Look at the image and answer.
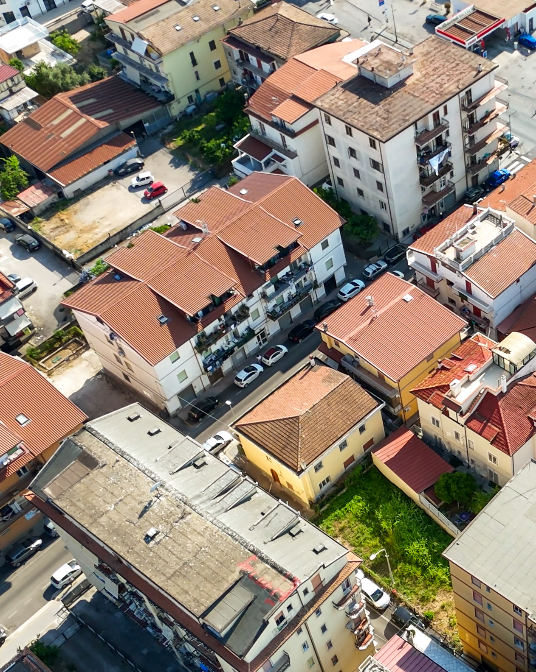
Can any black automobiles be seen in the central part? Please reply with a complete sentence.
Yes, a black automobile appears in the central part.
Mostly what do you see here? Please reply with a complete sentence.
The bulk of the photo consists of buildings.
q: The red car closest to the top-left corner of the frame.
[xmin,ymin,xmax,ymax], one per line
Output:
[143,180,169,199]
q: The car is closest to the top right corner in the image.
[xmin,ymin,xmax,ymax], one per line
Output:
[517,31,536,49]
